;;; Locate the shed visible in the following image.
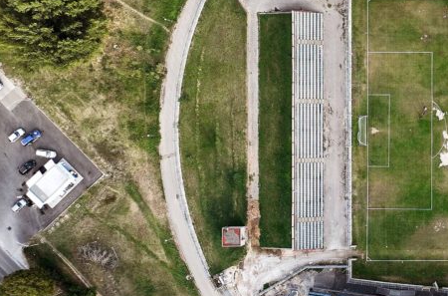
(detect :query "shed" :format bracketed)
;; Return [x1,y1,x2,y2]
[221,225,246,246]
